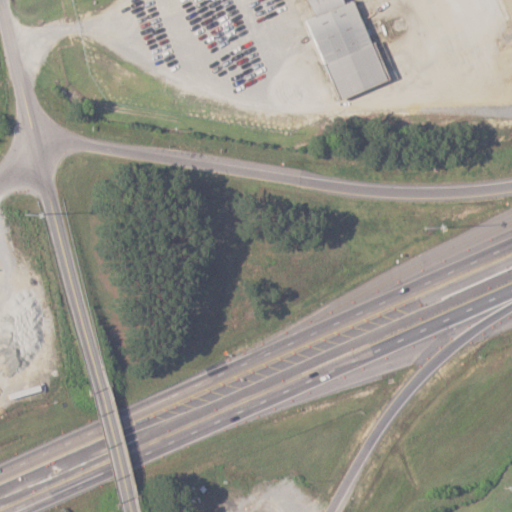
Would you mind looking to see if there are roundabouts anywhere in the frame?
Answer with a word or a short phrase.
No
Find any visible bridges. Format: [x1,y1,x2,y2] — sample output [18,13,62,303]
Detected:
[92,388,140,512]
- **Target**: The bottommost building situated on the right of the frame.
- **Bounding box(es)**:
[325,46,390,100]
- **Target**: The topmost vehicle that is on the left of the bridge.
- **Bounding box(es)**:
[6,384,46,400]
